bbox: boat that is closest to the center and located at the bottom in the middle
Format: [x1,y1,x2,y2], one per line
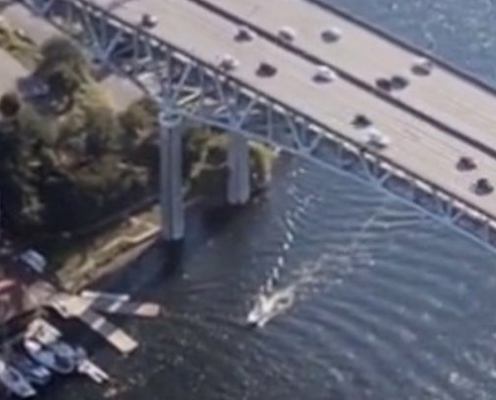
[249,303,271,321]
